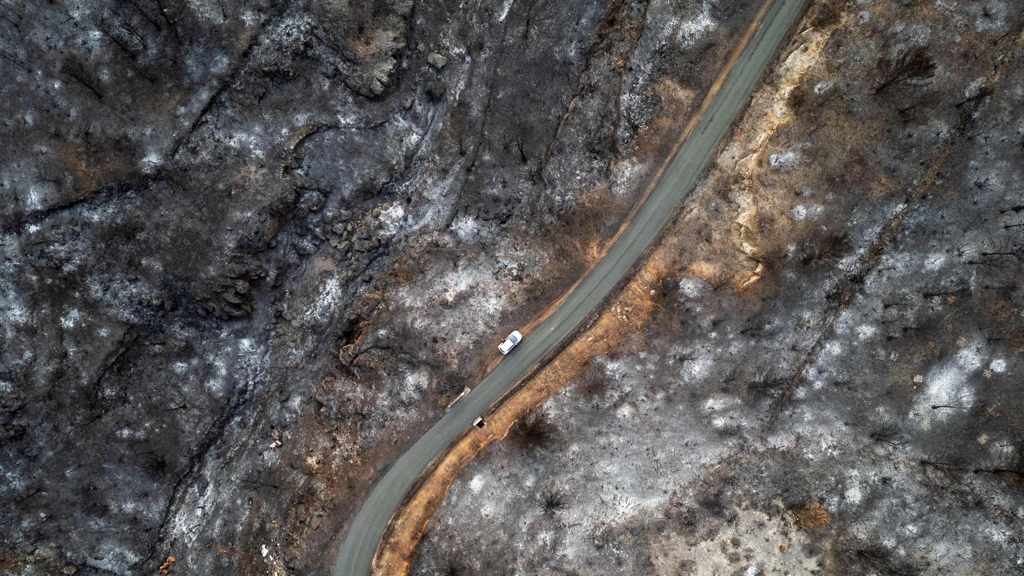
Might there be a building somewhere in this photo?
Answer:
No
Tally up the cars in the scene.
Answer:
1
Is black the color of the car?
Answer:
No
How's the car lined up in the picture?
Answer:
diagonally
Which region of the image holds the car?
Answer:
center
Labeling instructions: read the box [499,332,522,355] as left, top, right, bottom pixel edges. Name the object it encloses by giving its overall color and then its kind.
white car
